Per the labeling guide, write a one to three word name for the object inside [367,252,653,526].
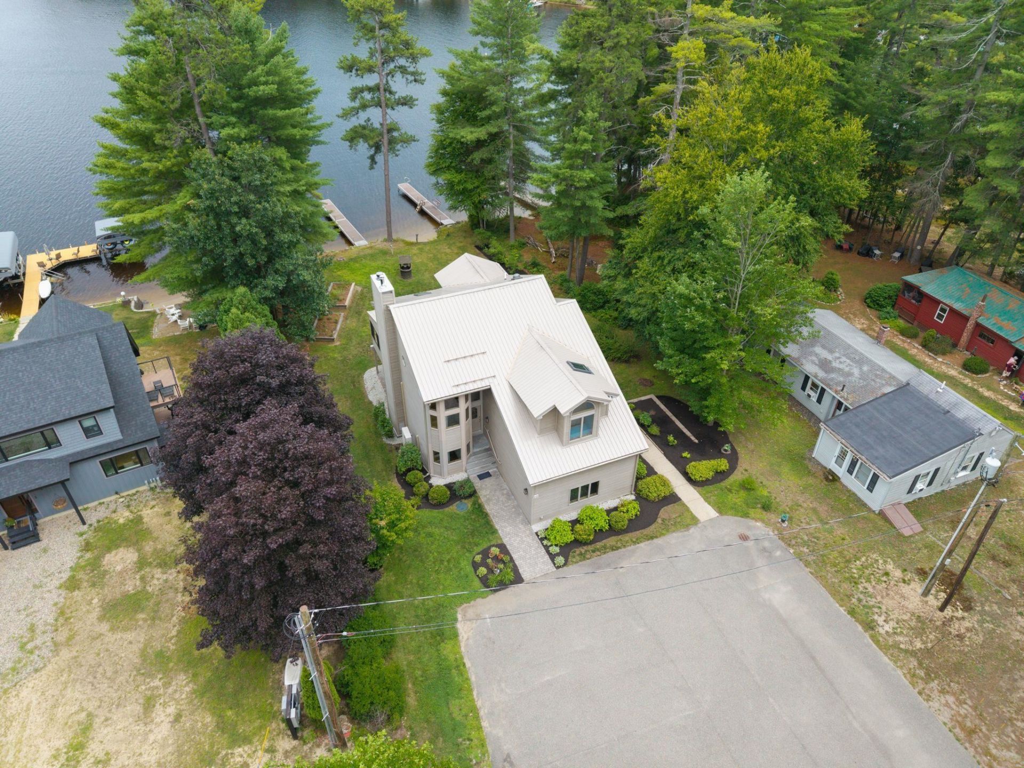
house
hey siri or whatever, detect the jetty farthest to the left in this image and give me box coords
[15,239,100,319]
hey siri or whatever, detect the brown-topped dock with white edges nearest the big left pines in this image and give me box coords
[319,195,368,245]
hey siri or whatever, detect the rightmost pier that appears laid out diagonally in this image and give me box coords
[397,179,455,225]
